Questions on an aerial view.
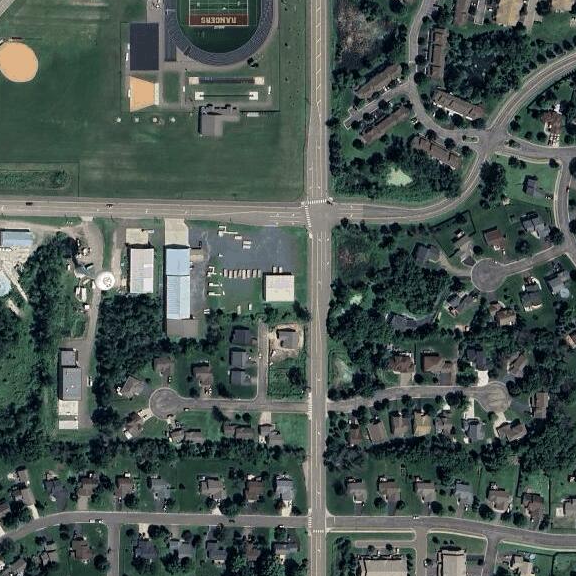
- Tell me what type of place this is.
residential area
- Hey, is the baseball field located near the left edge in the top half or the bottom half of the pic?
top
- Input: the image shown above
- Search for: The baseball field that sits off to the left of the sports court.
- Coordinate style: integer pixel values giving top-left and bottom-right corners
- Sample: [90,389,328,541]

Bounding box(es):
[0,41,38,82]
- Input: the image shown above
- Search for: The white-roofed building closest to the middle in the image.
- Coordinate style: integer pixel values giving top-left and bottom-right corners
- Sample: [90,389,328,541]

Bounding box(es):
[263,272,295,301]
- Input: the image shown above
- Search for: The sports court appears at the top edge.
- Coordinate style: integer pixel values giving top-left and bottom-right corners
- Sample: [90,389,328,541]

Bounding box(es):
[130,22,159,69]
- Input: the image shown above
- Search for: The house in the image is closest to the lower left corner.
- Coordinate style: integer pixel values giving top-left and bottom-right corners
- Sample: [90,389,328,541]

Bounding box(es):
[1,557,25,576]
